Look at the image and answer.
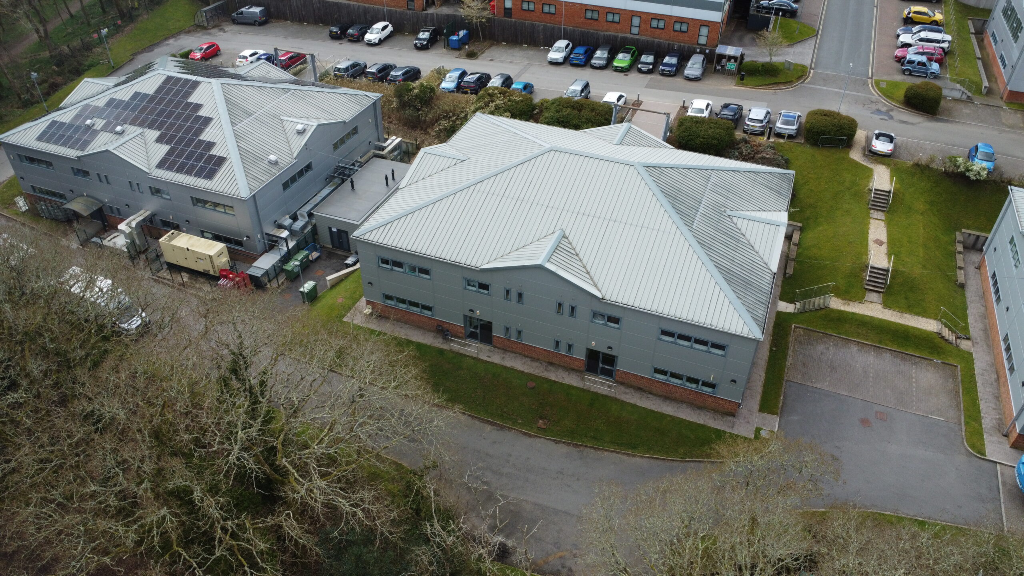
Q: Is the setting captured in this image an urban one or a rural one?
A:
urban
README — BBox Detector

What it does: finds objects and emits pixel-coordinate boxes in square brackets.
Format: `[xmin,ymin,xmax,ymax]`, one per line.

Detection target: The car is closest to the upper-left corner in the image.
[184,38,221,60]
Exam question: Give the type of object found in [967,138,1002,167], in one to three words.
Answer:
car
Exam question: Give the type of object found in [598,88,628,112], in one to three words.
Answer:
car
